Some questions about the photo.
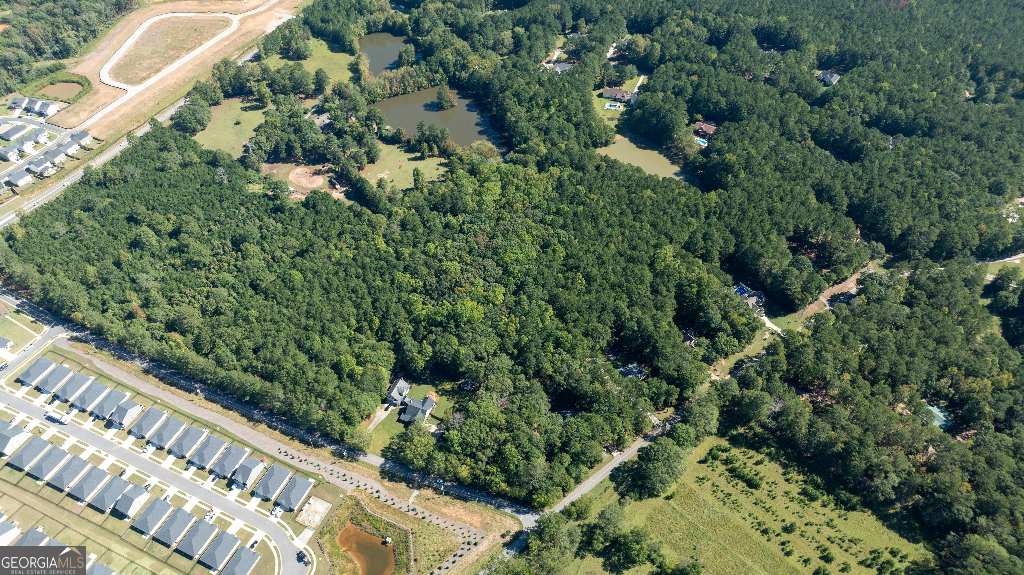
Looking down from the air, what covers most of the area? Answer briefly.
trees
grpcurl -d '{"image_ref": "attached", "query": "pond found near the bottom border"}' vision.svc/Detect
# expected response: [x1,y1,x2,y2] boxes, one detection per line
[338,523,395,575]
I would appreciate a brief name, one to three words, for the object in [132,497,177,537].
house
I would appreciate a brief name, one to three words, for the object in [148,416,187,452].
house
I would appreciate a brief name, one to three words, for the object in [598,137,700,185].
pond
